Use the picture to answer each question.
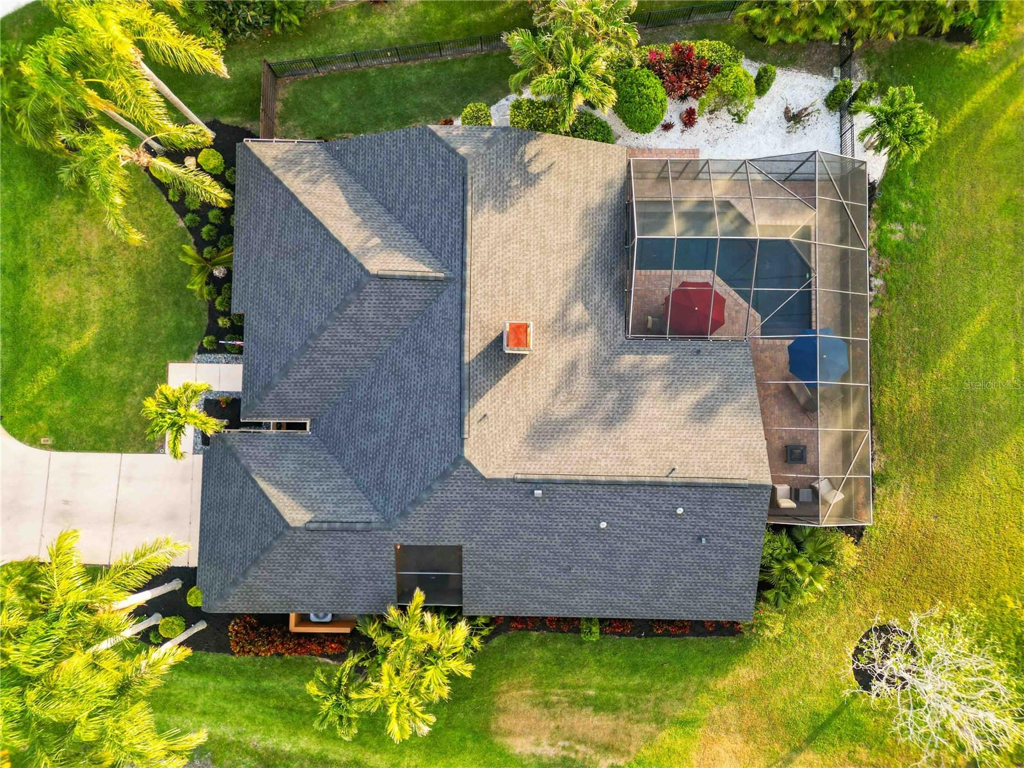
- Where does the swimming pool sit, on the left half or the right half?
right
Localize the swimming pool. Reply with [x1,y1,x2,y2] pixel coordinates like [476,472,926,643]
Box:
[636,201,811,334]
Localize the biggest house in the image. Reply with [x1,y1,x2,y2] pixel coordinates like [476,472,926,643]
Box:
[200,123,772,619]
